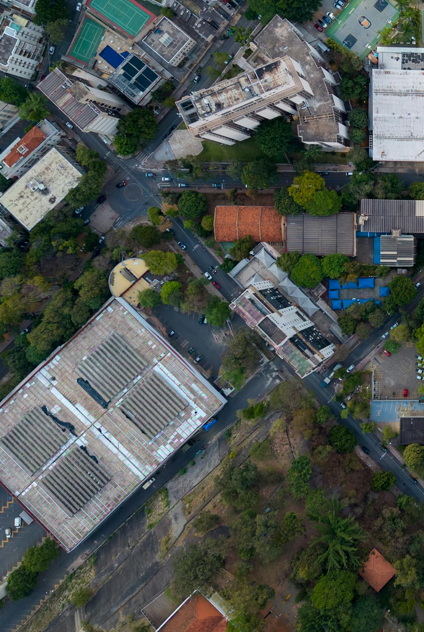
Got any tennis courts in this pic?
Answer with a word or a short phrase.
Yes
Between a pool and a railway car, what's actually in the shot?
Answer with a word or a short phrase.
pool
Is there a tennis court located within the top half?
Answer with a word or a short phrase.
Yes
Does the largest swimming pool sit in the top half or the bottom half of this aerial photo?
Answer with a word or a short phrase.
top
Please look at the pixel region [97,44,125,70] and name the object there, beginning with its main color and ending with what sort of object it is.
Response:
blue swimming pool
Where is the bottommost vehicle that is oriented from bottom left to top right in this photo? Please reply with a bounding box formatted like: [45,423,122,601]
[141,474,158,492]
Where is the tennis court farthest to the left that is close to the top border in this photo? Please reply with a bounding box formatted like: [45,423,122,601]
[69,18,104,65]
